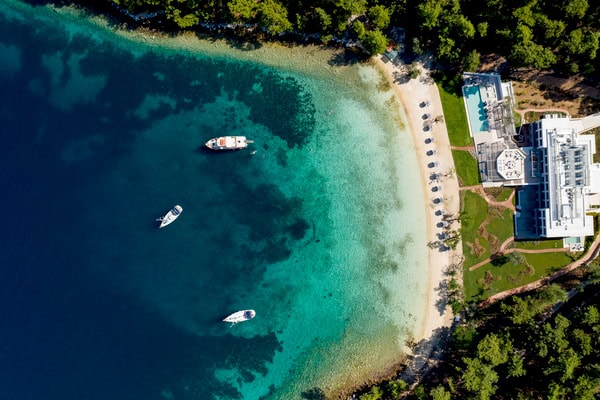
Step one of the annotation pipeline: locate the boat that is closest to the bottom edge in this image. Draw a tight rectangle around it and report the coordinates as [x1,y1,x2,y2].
[222,309,257,330]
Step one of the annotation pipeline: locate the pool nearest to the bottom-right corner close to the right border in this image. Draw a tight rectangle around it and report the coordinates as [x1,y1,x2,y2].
[562,237,584,252]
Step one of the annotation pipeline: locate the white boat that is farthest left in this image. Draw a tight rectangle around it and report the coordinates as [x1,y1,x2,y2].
[157,203,185,228]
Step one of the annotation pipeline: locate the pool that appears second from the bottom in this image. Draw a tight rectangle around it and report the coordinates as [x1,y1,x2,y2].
[514,187,544,238]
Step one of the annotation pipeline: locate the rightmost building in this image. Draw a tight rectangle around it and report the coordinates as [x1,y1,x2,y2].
[524,114,600,238]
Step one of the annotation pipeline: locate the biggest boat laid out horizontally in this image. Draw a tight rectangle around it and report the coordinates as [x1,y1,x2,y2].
[204,135,254,149]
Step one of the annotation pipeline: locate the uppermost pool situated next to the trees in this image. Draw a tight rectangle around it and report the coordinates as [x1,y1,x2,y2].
[462,83,514,147]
